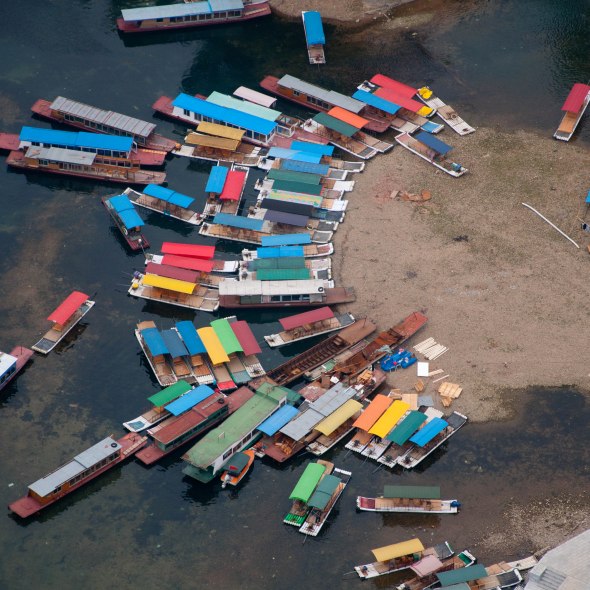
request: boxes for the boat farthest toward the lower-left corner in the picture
[9,432,148,517]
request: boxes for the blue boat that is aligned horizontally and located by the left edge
[0,127,167,169]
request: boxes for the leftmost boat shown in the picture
[0,342,36,395]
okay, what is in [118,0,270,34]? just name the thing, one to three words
boat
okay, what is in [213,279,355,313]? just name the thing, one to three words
boat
